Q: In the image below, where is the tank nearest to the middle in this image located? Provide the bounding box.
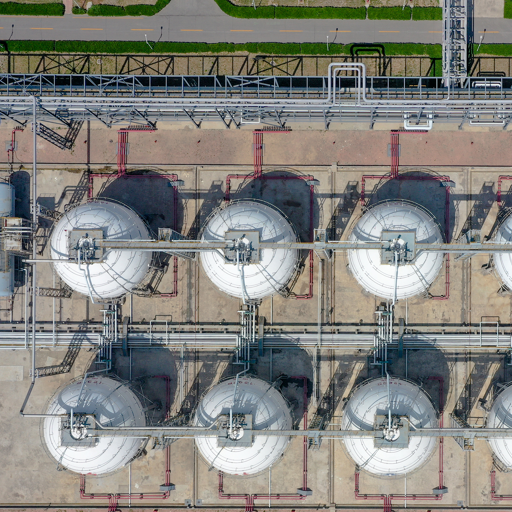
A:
[196,198,305,304]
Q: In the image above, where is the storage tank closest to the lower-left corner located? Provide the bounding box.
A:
[39,370,162,478]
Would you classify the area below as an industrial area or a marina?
industrial area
